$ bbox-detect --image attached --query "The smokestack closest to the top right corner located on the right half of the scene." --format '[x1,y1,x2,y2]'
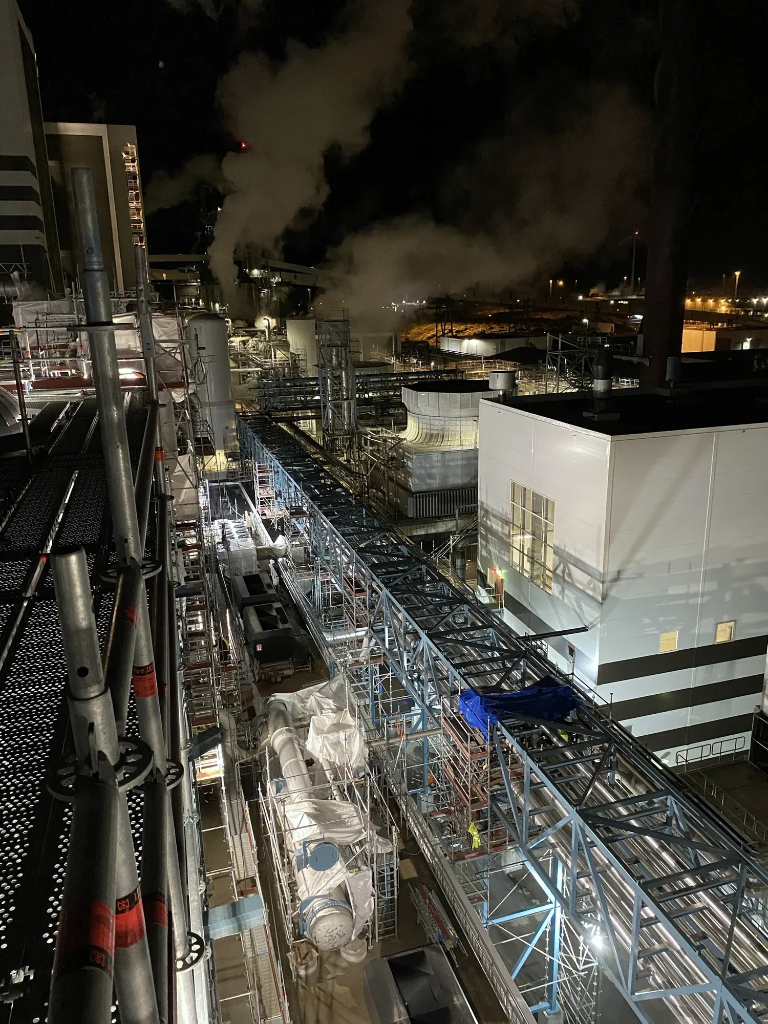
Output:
[608,0,714,384]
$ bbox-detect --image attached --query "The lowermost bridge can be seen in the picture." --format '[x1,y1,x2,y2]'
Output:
[275,558,538,1024]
